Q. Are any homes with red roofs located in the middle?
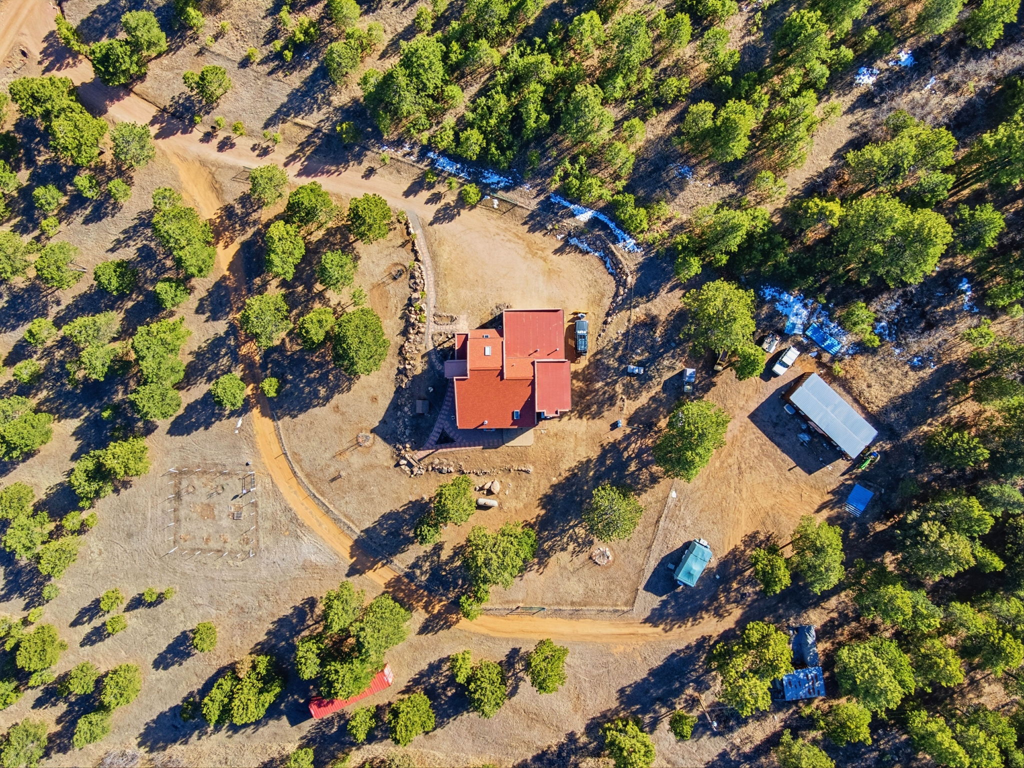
Yes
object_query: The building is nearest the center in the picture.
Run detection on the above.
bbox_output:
[445,308,570,430]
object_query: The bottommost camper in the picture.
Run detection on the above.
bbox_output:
[675,540,709,582]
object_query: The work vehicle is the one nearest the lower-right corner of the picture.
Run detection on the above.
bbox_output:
[862,450,884,472]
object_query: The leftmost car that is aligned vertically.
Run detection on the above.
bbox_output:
[575,321,590,357]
